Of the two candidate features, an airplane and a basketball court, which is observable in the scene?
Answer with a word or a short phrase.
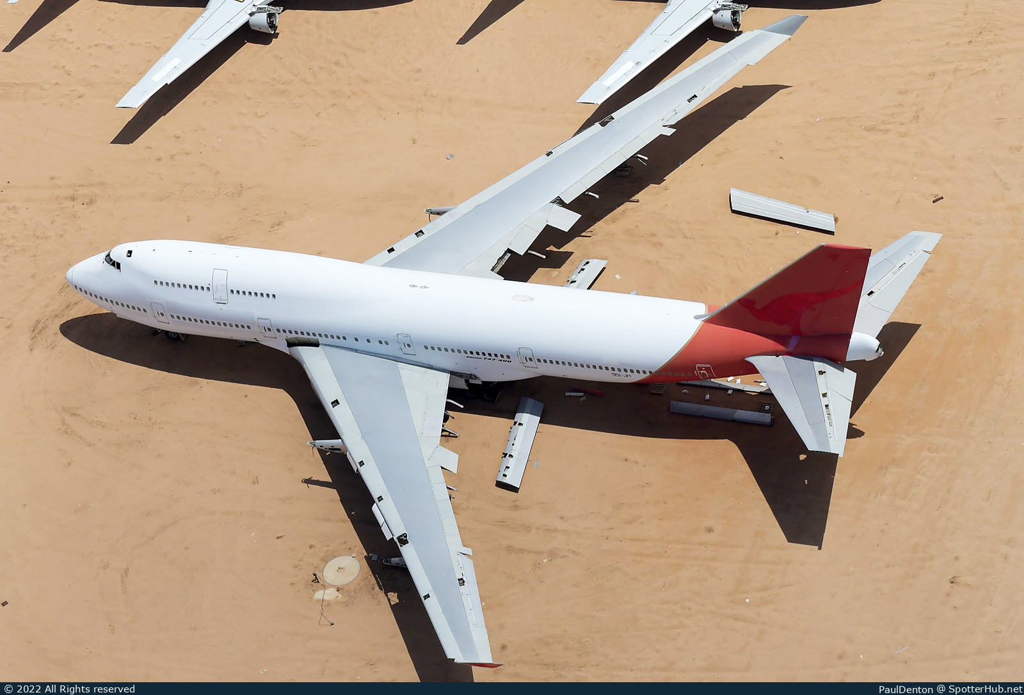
airplane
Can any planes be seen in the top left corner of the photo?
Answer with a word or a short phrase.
Yes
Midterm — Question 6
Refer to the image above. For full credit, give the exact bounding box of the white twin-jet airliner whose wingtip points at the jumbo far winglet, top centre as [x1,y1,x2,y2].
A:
[579,0,754,102]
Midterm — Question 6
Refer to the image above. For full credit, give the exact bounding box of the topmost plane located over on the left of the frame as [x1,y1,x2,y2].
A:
[115,0,290,107]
